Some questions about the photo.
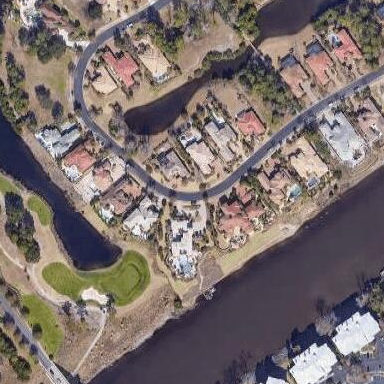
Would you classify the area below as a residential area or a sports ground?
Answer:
residential area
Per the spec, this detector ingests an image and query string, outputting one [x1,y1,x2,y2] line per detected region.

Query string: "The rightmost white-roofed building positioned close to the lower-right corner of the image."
[332,312,380,356]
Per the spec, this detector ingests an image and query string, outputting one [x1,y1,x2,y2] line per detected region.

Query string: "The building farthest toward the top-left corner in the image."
[39,3,68,32]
